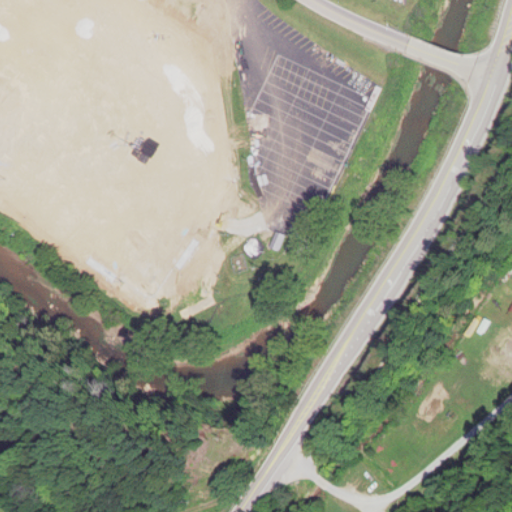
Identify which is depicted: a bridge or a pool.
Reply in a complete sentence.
Visible in the photo is a bridge.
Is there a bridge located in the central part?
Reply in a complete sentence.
No, no bridge appears in the central part.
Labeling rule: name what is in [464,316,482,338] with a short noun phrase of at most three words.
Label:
vehicle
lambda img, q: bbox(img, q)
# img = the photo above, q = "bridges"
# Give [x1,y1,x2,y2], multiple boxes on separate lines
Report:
[406,38,477,86]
